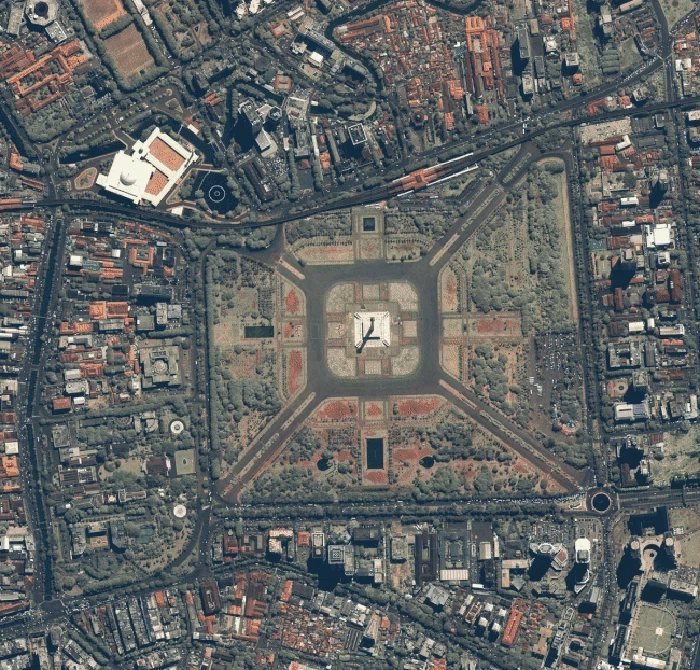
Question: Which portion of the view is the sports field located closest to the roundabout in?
bottom right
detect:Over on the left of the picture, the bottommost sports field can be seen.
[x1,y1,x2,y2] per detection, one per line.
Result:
[103,22,154,77]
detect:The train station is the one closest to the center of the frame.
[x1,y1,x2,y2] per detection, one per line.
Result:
[381,152,481,200]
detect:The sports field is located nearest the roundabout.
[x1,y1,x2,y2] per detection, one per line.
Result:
[628,602,676,654]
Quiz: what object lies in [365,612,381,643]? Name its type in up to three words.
building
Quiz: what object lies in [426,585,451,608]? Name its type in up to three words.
building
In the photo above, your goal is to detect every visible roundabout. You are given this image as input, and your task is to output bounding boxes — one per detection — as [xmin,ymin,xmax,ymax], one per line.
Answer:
[582,483,619,520]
